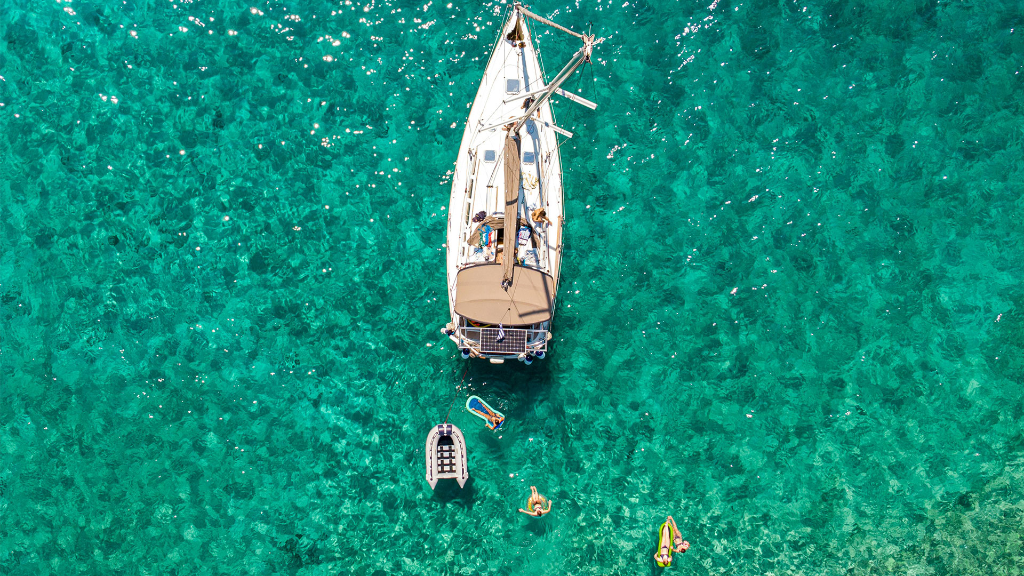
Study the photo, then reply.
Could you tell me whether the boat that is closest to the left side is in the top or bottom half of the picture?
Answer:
bottom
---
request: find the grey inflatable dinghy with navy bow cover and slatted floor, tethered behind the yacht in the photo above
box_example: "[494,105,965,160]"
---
[426,423,468,489]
